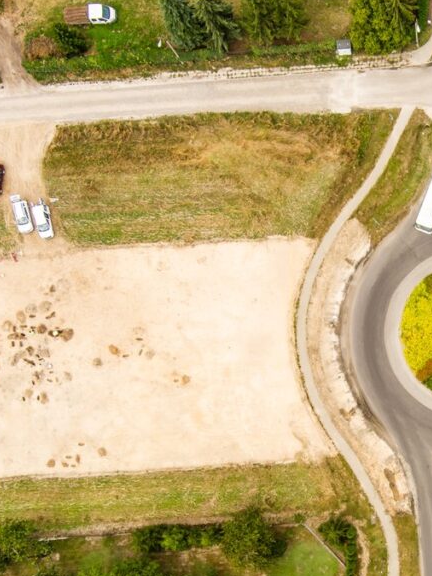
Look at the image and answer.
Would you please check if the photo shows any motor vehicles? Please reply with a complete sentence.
Yes, there's a motor vehicle down there.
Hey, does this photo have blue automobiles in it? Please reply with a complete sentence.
No, I can see no blue automobile in this picture.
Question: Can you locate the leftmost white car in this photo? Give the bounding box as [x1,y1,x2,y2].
[8,190,34,235]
